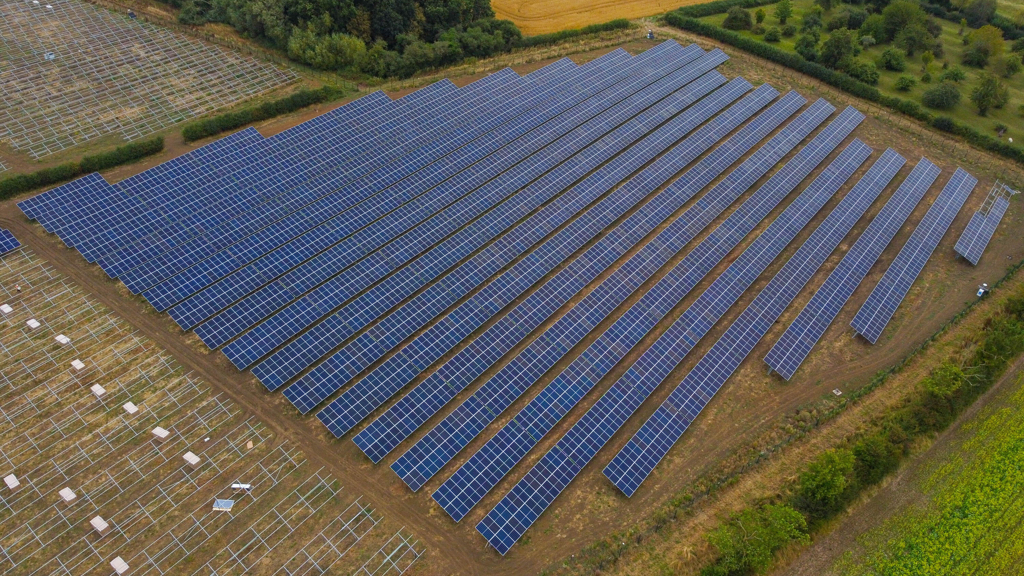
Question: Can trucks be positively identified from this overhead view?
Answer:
No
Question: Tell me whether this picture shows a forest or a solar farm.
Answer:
solar farm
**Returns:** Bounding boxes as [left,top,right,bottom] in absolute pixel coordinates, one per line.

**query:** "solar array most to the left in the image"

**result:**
[0,229,22,255]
